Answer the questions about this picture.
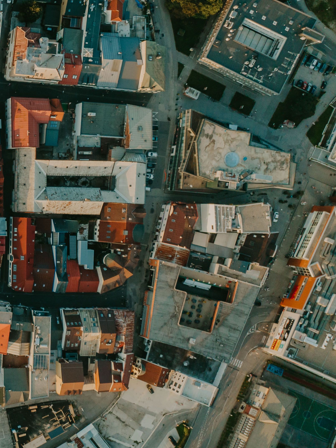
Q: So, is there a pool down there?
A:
No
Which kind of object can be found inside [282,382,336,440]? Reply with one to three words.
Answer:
sports court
